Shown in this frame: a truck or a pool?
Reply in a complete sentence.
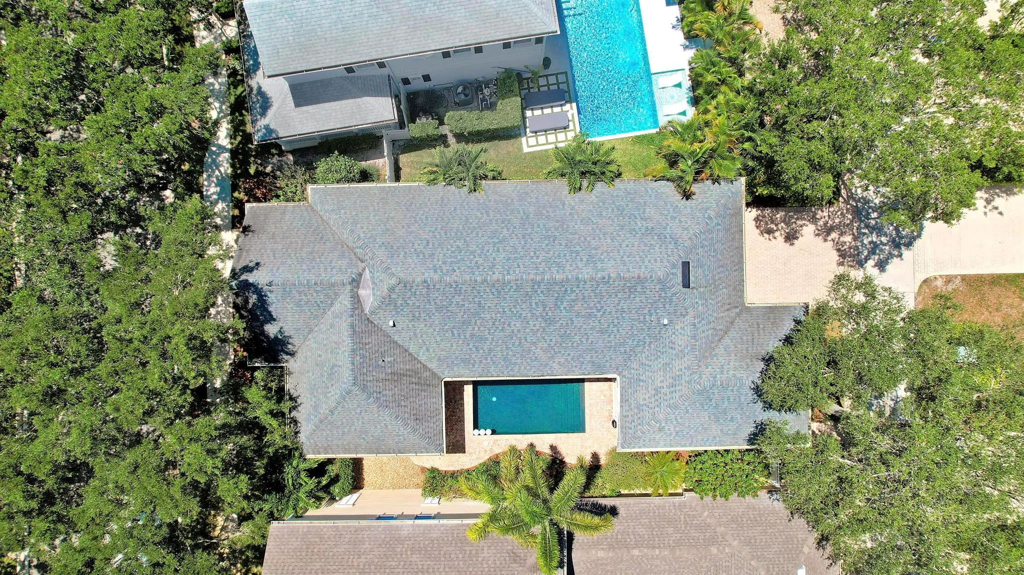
The one in the frame is a pool.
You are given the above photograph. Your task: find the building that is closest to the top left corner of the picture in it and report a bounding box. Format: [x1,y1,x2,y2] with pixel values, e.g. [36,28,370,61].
[229,0,562,152]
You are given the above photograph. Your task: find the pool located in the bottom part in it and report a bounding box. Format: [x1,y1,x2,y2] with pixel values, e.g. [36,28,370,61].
[473,380,584,435]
